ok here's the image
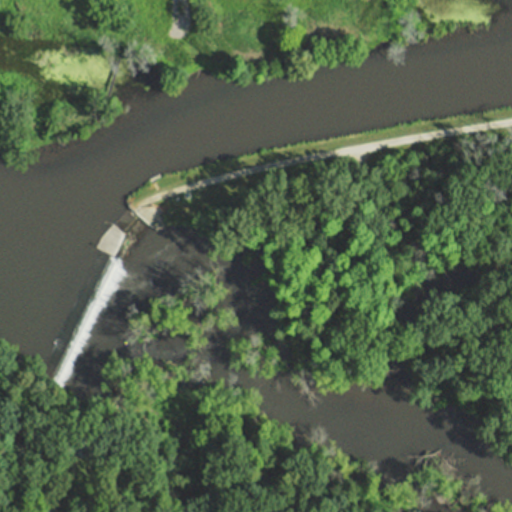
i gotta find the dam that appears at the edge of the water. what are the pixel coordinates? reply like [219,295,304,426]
[56,256,125,386]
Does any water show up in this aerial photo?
Yes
